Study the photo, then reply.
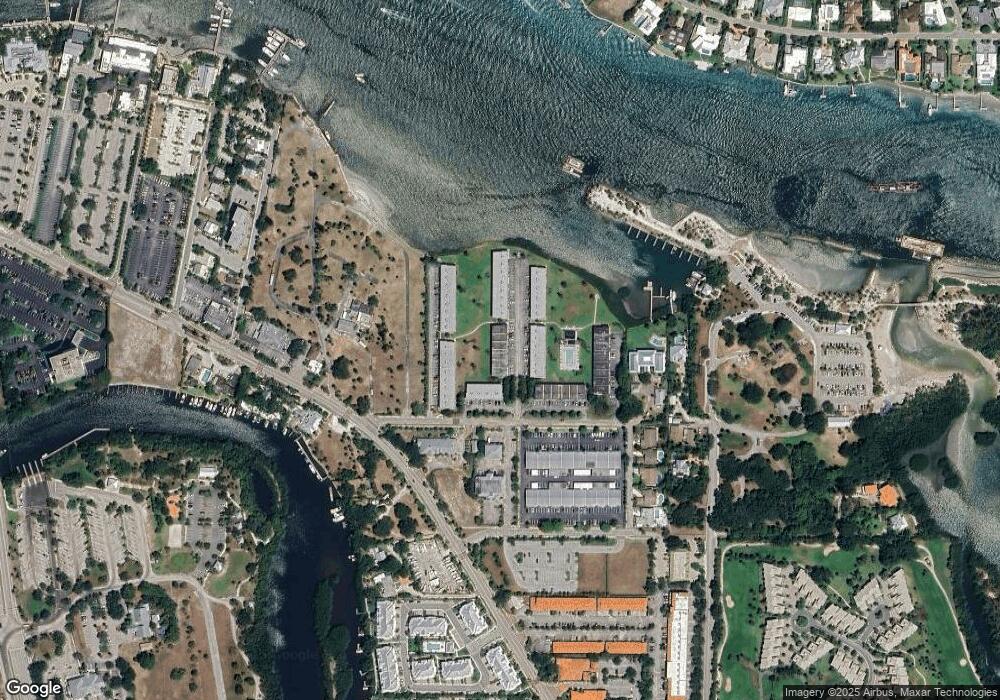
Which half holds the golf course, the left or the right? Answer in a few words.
right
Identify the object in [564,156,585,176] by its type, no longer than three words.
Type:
ship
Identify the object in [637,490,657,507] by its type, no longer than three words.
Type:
house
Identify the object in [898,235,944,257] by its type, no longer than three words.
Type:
ship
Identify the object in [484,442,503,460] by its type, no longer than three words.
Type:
building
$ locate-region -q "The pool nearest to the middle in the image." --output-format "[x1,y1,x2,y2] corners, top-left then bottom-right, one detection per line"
[561,345,579,370]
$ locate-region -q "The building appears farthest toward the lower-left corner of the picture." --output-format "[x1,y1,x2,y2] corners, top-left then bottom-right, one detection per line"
[66,677,104,699]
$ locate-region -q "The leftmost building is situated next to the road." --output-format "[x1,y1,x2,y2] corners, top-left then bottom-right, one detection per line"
[3,37,47,71]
